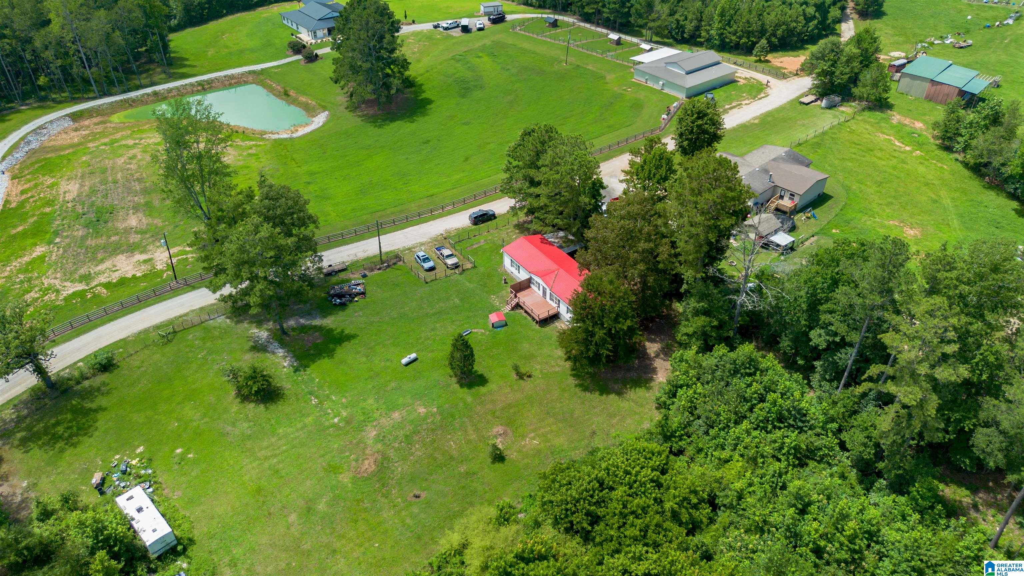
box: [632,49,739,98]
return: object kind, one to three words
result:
barn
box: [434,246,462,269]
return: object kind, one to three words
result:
truck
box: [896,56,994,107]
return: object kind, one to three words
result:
barn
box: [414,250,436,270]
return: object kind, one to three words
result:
car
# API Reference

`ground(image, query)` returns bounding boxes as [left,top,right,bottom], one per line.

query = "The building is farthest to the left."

[279,0,366,39]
